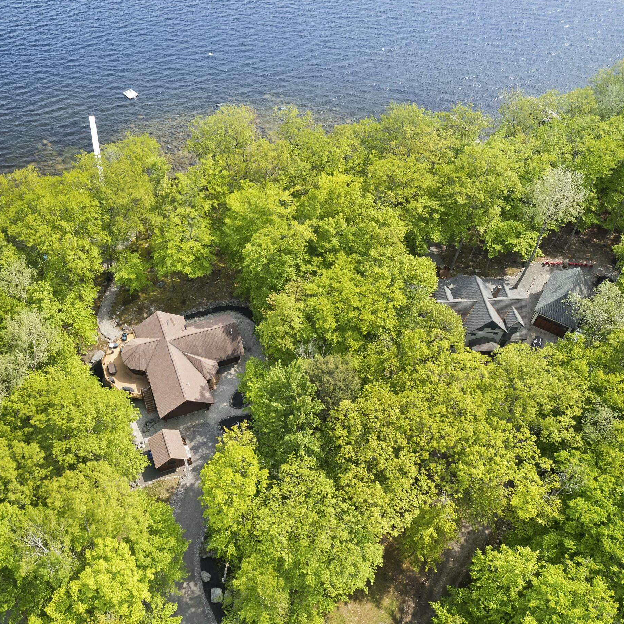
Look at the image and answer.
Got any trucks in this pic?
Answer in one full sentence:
No, no truck can be seen from above.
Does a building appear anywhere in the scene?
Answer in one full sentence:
Yes, the image includes a building.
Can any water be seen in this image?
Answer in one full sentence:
Yes, there is water in the image.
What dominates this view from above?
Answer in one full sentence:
The bulk of the photo consists of trees.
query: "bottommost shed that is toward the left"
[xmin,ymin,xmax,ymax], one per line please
[147,429,192,475]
